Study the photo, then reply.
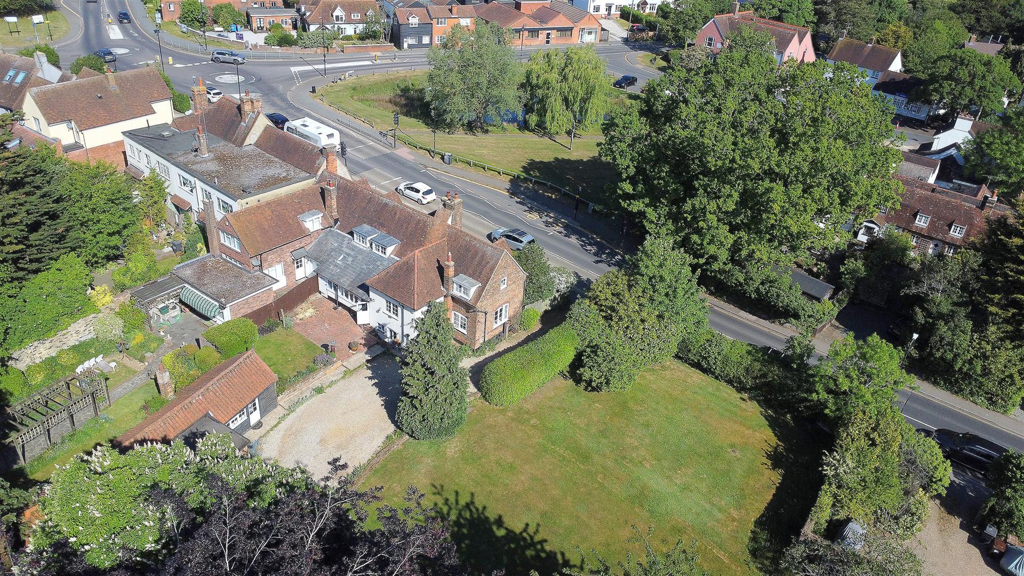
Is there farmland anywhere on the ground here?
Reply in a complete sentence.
No, there is no farmland in the image.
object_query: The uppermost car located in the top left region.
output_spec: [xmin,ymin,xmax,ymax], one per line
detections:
[116,7,131,21]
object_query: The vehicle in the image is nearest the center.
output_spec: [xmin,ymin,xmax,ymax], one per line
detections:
[489,224,540,252]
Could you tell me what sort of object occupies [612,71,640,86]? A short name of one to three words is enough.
car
